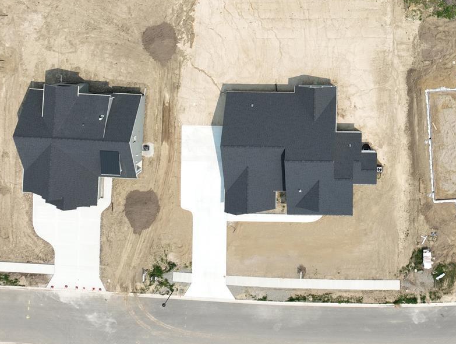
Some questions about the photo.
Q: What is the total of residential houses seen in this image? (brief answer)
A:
2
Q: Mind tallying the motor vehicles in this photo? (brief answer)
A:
0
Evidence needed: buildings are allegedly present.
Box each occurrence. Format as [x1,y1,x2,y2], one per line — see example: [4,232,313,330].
[12,83,144,212]
[221,86,377,216]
